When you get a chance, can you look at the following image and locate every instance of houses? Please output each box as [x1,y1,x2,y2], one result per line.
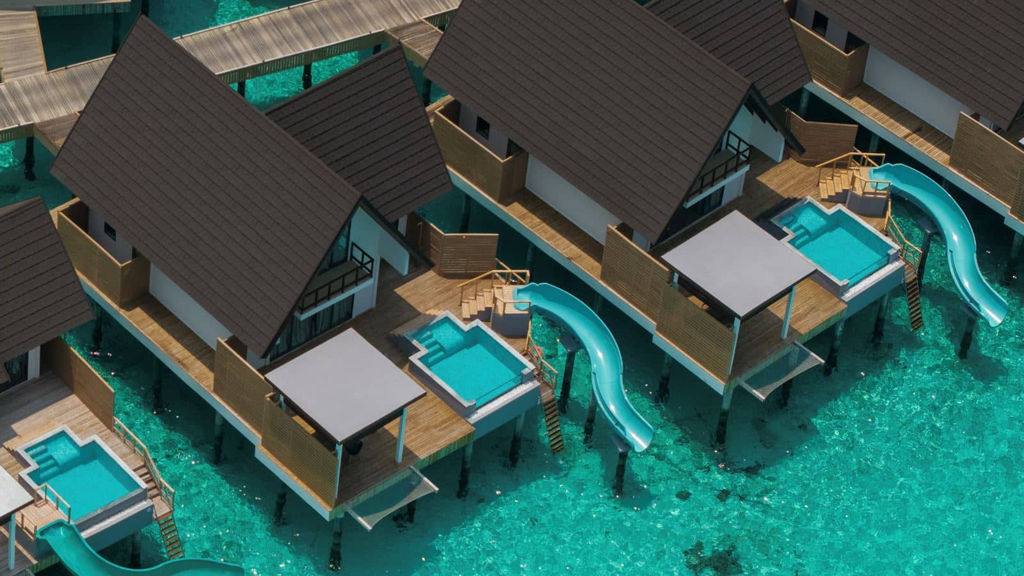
[47,11,530,564]
[778,0,1024,280]
[423,0,889,438]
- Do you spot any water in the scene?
Yes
